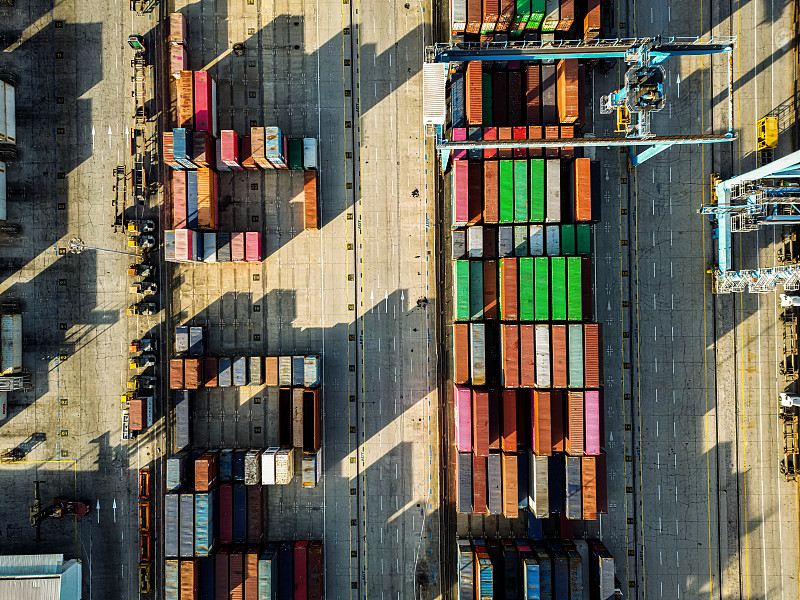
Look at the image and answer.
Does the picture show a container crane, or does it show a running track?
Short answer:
container crane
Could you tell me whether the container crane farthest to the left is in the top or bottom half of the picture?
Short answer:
top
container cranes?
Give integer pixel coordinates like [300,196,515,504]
[424,33,737,180]
[695,162,800,295]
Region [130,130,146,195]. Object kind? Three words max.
trailer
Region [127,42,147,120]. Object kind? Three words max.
vehicle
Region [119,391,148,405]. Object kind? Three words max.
work vehicle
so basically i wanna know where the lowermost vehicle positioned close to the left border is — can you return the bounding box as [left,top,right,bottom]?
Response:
[21,482,86,537]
